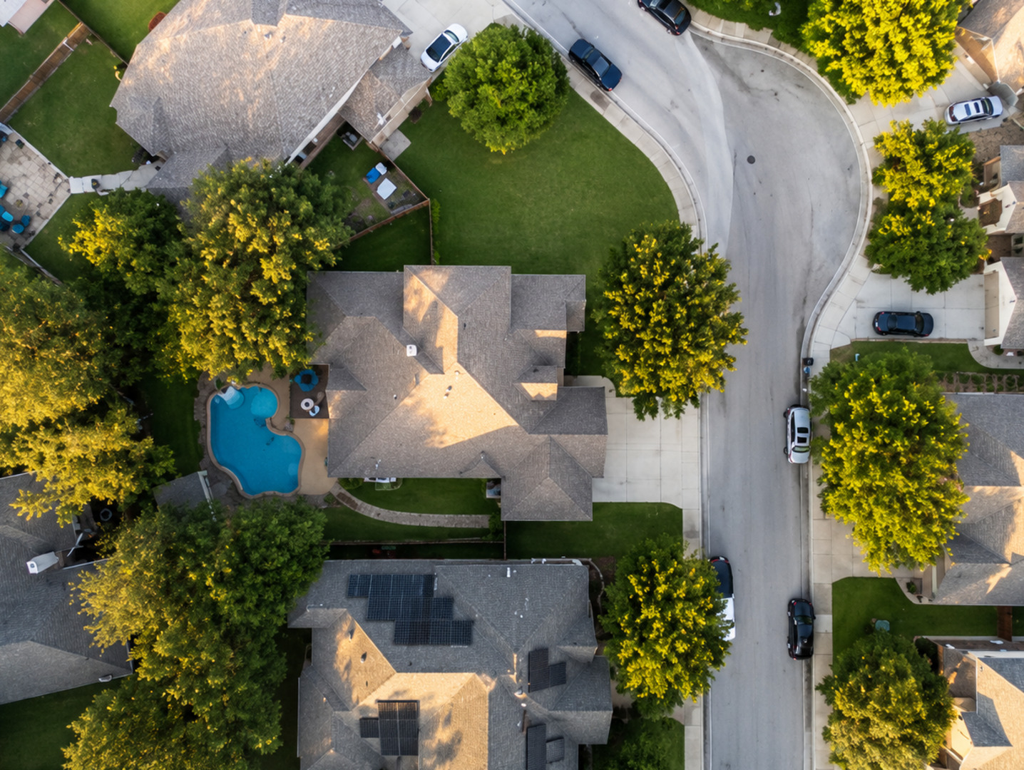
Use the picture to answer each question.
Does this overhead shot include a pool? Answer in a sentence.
Yes, the frame does contain a pool.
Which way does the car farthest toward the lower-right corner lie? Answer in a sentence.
The car farthest toward the lower-right corner is laid out up and down.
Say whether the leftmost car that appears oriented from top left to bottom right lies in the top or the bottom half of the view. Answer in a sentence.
The leftmost car that appears oriented from top left to bottom right sits in the top half of the picture.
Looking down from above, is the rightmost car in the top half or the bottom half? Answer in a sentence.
You can find the rightmost car in the top half.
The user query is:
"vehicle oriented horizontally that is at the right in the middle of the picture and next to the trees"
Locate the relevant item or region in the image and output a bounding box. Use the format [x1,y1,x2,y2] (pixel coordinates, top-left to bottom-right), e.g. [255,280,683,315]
[874,309,937,338]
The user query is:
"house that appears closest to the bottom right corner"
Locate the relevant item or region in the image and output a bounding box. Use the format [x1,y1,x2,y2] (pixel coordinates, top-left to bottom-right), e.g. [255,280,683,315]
[942,644,1024,770]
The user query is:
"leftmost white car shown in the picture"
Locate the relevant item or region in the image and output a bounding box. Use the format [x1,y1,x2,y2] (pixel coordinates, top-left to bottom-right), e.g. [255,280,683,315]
[417,15,470,74]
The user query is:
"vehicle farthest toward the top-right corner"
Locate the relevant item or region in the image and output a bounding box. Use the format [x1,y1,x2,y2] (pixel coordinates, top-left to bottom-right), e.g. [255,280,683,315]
[944,93,1008,124]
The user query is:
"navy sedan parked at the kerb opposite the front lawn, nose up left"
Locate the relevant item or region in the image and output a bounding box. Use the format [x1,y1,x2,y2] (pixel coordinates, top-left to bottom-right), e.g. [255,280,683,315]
[566,35,626,89]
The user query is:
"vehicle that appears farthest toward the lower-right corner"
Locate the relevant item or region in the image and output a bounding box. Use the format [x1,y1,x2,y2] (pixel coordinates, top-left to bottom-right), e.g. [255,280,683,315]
[789,599,821,663]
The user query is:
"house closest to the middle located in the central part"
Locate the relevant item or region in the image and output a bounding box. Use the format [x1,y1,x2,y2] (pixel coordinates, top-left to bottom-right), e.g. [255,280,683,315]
[306,264,608,522]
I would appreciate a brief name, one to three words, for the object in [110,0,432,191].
house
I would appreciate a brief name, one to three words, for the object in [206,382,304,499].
swimming pool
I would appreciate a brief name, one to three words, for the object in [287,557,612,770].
house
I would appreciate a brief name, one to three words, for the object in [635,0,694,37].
car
